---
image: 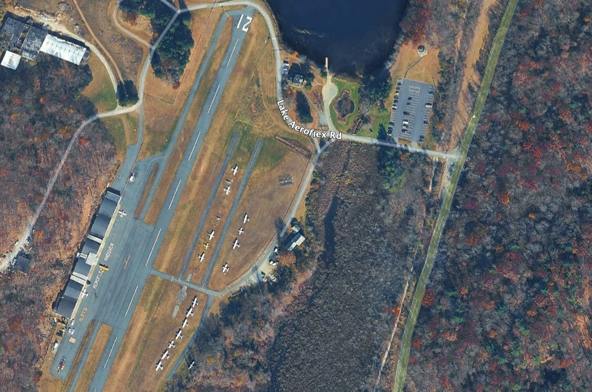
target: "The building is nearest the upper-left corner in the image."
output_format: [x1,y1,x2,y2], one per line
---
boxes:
[0,17,25,50]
